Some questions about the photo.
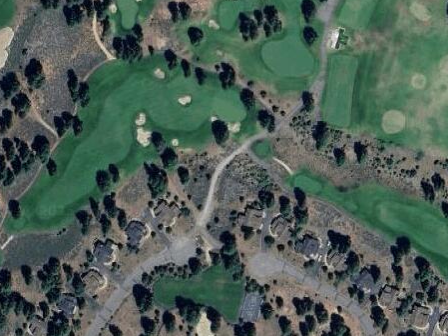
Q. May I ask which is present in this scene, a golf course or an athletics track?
golf course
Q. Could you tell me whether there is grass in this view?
Yes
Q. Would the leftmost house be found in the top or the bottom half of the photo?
bottom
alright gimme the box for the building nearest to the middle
[237,204,266,228]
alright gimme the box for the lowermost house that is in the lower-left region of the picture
[22,316,50,336]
